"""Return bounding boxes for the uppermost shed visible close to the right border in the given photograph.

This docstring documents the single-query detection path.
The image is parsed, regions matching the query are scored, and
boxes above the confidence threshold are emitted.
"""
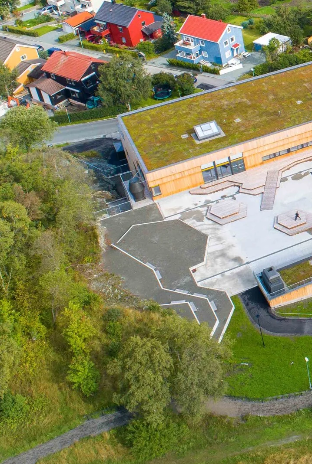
[255,25,300,55]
